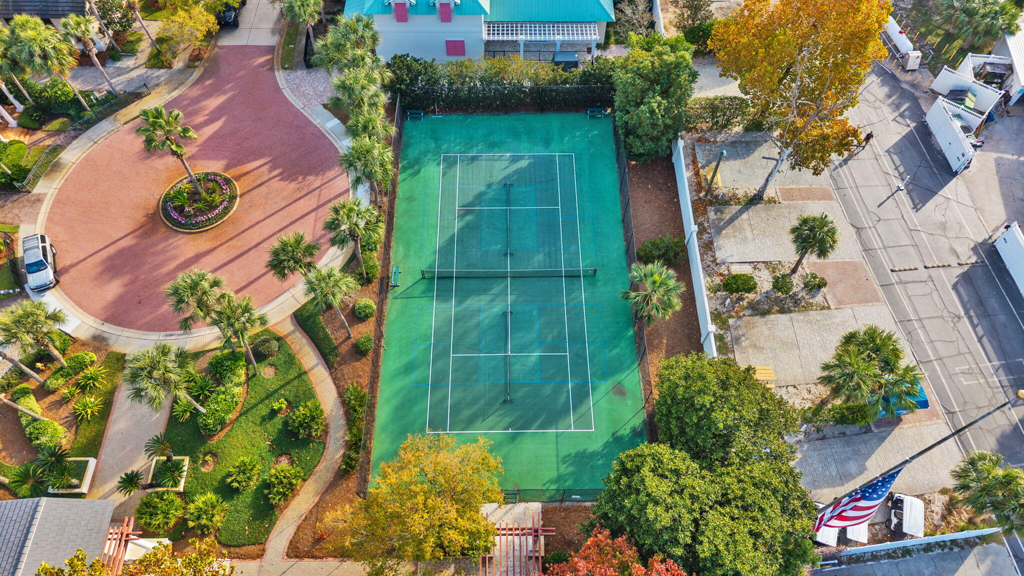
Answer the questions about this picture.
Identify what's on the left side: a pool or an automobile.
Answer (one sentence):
What appears on the left side is an automobile.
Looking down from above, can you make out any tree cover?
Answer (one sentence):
Yes, tree cover can be seen from above here.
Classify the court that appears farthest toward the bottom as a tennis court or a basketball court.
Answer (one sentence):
The court that appears farthest toward the bottom appears to be a tennis court.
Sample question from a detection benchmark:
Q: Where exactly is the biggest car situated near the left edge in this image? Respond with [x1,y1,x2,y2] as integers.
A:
[18,238,60,299]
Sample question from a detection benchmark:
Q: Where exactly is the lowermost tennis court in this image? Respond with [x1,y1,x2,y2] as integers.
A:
[370,113,650,501]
